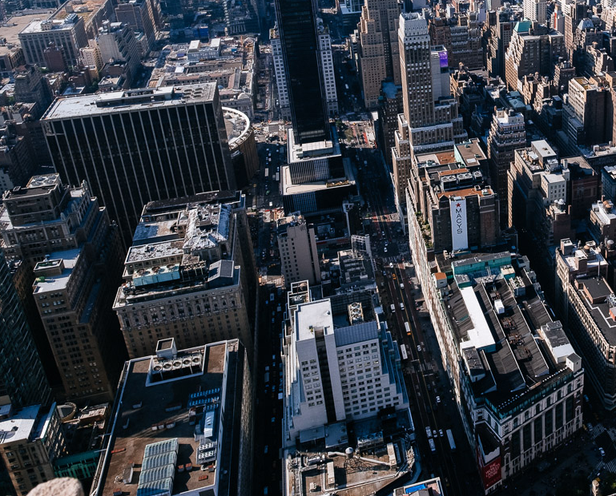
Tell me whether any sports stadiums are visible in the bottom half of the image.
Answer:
No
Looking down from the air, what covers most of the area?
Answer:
buildings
